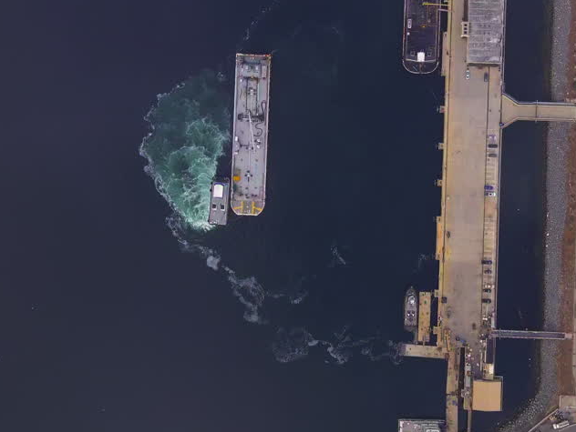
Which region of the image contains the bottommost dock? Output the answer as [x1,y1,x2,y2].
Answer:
[445,394,458,432]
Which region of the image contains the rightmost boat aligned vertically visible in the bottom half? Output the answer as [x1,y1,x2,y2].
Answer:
[404,285,417,330]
